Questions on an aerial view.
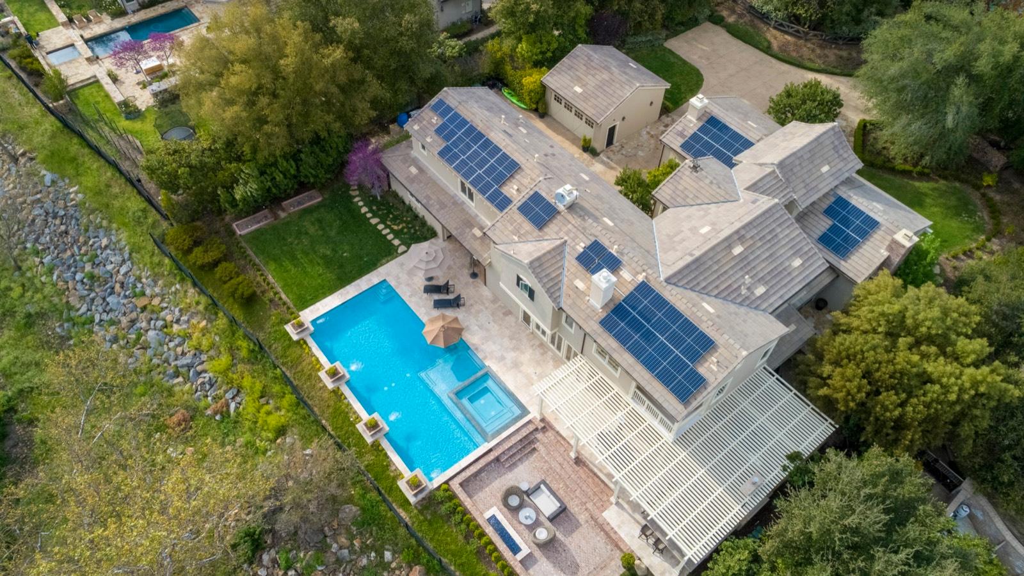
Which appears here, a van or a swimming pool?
swimming pool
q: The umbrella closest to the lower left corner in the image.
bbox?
[422,317,466,355]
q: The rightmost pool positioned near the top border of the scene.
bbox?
[85,4,204,58]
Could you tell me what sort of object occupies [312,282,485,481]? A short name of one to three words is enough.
swimming pool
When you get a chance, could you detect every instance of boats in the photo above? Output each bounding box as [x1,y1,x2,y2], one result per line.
[503,89,526,108]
